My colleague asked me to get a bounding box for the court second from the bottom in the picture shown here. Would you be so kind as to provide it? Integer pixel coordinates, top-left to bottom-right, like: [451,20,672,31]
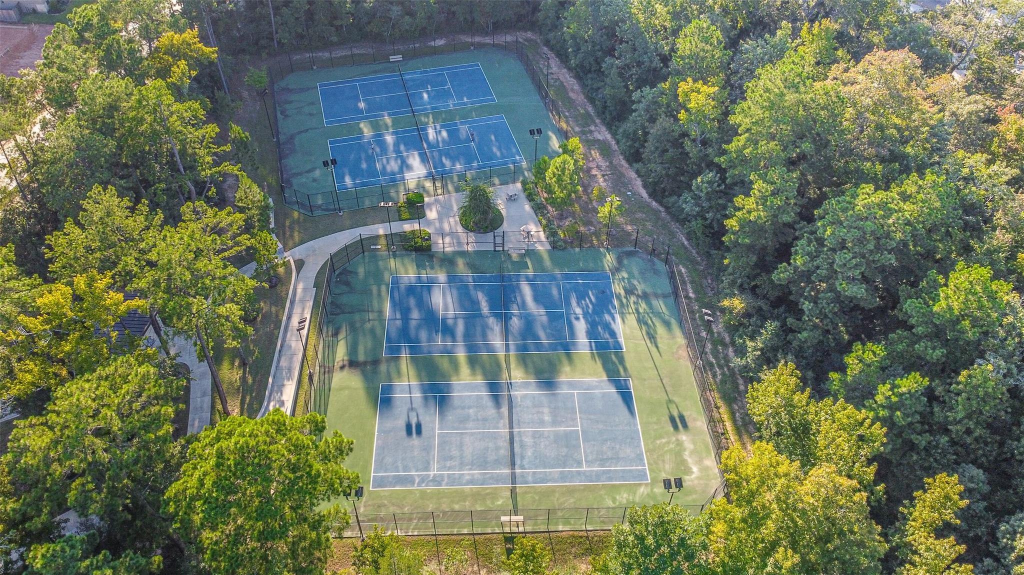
[313,247,694,371]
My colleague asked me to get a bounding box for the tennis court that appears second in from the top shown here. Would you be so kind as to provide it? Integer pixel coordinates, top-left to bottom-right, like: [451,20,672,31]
[275,102,576,219]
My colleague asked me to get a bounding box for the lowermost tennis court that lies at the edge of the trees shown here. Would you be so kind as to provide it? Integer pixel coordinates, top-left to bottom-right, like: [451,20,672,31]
[292,363,727,539]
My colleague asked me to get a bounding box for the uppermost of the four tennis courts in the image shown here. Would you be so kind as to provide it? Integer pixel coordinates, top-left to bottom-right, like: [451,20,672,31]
[270,46,544,140]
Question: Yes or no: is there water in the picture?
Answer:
No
